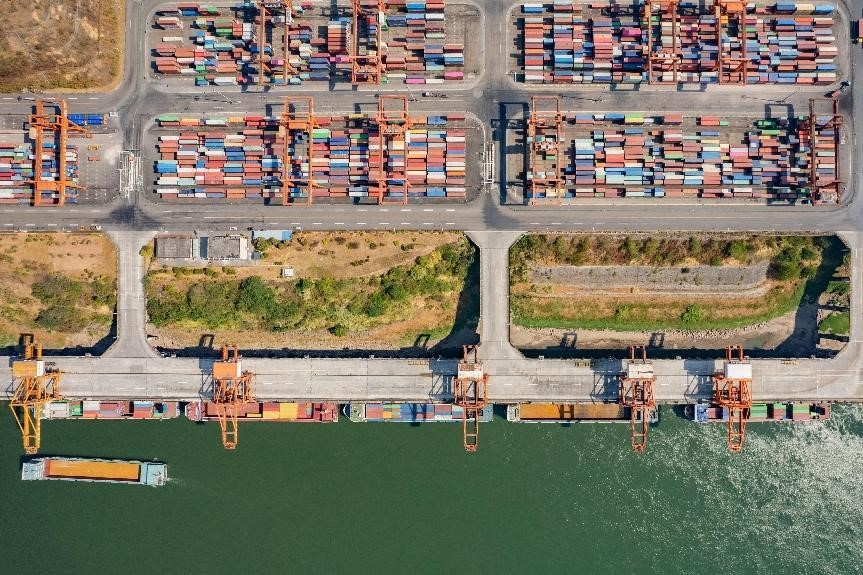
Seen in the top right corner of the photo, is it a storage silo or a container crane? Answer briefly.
container crane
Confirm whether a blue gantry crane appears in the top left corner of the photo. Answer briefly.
No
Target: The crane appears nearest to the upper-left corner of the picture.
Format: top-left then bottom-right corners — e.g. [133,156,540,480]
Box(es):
[28,99,93,208]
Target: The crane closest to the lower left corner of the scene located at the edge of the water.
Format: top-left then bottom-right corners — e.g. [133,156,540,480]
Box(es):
[9,343,75,451]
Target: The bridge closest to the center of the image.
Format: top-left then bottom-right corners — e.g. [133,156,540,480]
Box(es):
[464,232,527,358]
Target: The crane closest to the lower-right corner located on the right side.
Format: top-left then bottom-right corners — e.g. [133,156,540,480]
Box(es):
[700,345,756,454]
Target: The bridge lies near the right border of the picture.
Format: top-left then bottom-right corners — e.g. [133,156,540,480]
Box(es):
[830,232,863,359]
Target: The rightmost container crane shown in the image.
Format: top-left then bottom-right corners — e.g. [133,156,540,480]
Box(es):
[785,97,843,207]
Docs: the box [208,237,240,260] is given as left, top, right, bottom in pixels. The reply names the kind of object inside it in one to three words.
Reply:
building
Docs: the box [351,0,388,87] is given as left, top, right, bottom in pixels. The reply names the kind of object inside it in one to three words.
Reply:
container crane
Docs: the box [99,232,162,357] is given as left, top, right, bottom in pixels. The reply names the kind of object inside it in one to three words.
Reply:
bridge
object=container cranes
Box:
[351,0,388,87]
[375,94,415,207]
[259,0,302,87]
[637,0,678,87]
[606,344,654,453]
[785,97,843,207]
[704,0,748,87]
[448,344,488,453]
[9,343,75,451]
[213,343,261,452]
[28,99,93,208]
[521,95,562,207]
[700,345,756,454]
[279,95,325,207]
